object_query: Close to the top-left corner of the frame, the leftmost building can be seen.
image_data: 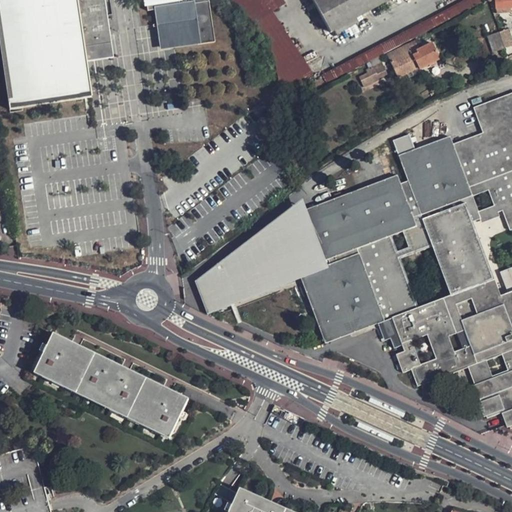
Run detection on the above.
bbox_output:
[0,0,94,114]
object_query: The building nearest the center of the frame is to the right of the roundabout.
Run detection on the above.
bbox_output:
[194,199,328,316]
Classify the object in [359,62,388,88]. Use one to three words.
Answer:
house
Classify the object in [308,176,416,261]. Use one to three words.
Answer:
building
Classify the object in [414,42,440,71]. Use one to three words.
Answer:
house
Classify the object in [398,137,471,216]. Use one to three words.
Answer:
building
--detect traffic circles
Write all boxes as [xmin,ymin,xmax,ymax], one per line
[126,278,168,321]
